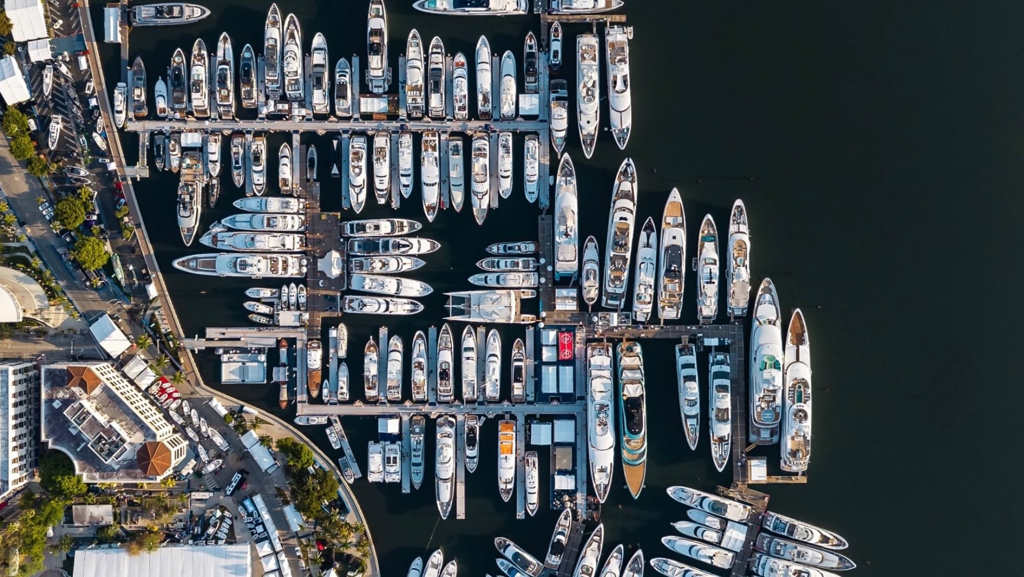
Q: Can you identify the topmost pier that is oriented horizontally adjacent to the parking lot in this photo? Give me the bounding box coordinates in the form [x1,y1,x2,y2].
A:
[127,120,550,132]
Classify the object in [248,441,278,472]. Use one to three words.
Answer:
tent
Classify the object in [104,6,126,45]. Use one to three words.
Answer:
shed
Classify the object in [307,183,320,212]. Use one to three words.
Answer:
pier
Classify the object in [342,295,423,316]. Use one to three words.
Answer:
boat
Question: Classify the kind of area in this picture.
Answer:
port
